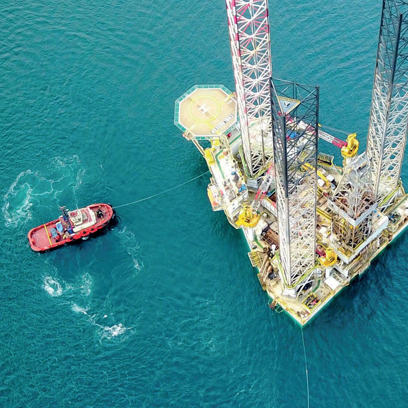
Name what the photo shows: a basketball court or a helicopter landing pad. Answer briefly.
helicopter landing pad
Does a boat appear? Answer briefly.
Yes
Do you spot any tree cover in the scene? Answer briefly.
No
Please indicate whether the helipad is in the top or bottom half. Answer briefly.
top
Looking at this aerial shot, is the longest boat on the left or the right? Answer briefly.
left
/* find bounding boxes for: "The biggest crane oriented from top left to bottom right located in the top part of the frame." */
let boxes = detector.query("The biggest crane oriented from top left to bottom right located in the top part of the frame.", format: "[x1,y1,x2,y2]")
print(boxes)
[282,111,361,177]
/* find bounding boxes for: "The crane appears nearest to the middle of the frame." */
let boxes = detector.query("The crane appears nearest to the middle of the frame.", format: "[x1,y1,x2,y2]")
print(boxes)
[240,149,282,245]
